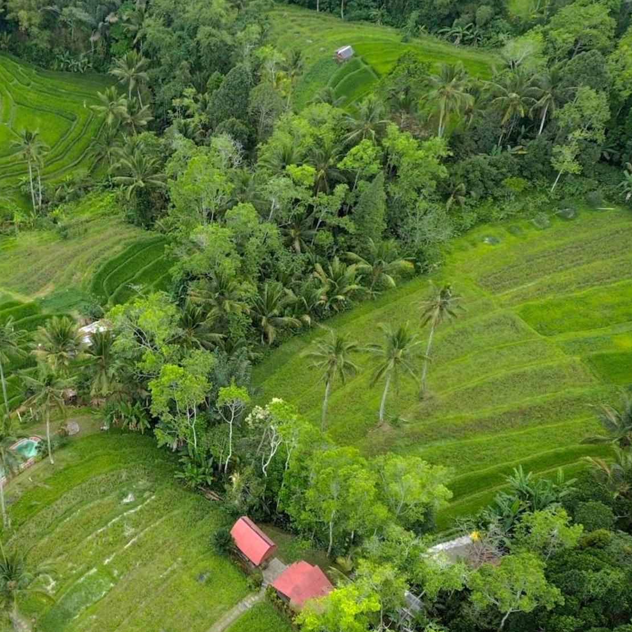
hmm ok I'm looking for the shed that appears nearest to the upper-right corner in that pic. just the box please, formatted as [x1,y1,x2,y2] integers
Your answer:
[330,48,356,67]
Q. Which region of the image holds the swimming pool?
bottom left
